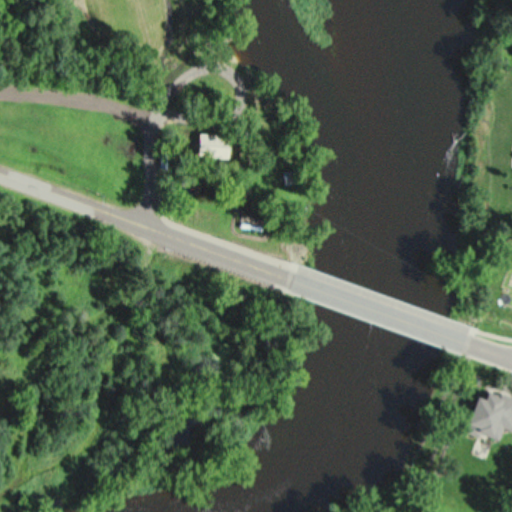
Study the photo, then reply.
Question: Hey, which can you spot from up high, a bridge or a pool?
bridge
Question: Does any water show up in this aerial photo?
Yes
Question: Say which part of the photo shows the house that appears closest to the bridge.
bottom right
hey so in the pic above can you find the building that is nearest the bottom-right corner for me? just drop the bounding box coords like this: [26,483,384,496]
[470,386,512,443]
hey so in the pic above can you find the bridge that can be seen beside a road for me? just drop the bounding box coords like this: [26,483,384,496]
[283,261,477,357]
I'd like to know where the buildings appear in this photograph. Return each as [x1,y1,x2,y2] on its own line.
[199,132,232,160]
[470,386,512,443]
